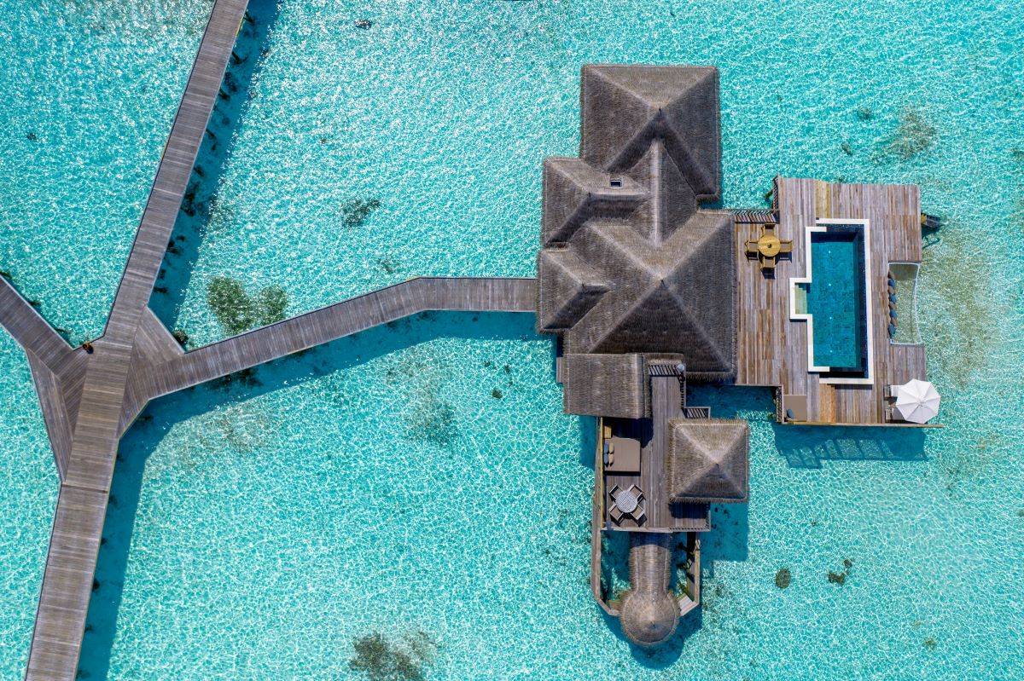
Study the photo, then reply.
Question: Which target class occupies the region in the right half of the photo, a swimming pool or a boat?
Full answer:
The one visible in the right half of the photo is a swimming pool.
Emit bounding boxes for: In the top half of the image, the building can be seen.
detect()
[534,63,738,421]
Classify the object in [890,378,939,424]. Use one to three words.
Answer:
umbrella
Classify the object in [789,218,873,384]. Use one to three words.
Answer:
swimming pool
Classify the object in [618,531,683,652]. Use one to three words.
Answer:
building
